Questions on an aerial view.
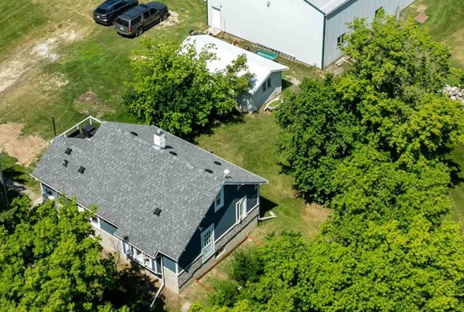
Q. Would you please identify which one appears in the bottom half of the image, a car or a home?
home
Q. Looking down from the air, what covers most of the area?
trees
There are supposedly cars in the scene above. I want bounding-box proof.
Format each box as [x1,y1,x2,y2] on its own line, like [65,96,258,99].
[117,3,174,38]
[94,0,144,27]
